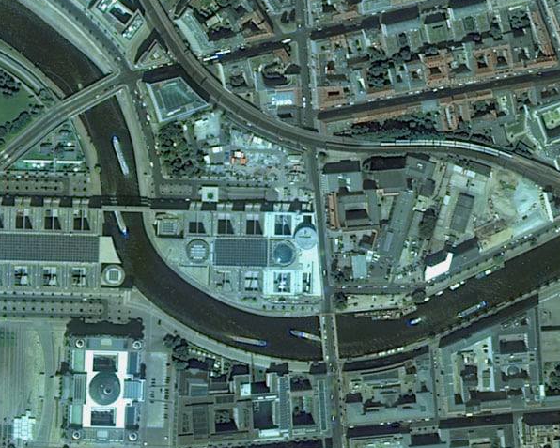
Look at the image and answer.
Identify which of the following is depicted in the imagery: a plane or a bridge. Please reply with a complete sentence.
The one in the frame is a bridge.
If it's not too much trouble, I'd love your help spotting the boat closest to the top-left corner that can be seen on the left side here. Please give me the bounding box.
[113,138,128,175]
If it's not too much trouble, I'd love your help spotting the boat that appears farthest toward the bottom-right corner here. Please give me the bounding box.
[457,303,486,319]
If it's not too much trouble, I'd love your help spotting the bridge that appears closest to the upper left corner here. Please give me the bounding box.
[54,68,126,121]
